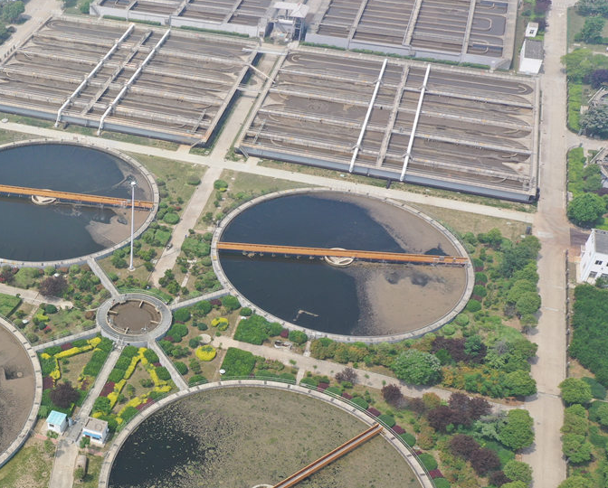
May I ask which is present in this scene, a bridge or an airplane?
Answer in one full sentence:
There is a bridge in the scene.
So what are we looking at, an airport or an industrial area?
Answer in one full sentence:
It's an industrial area.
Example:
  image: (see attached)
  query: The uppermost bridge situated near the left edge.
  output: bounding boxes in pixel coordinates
[0,184,156,210]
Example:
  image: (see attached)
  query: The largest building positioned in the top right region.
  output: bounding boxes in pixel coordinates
[519,38,543,74]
